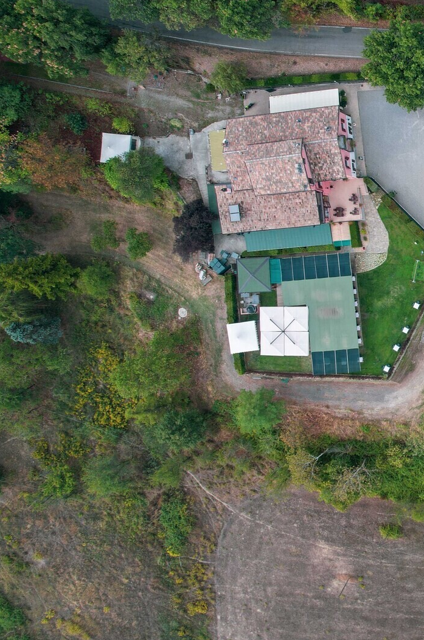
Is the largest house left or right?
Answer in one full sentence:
It is on the right.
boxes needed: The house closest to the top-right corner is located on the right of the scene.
[208,88,356,251]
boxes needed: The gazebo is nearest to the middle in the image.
[227,320,260,353]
